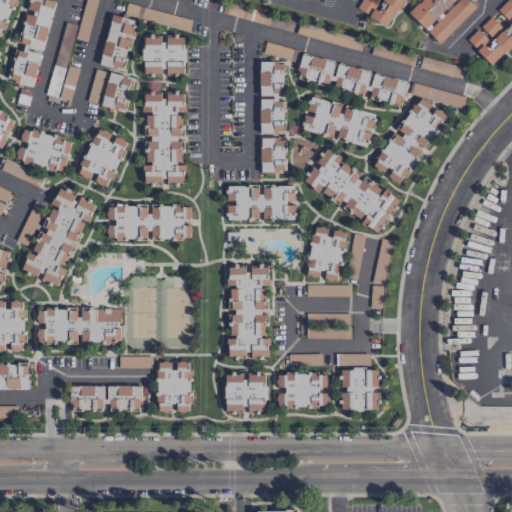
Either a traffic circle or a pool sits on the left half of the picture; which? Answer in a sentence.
Visible on the left half of the picture is a pool.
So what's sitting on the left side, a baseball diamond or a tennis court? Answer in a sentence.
There is a tennis court on the left side.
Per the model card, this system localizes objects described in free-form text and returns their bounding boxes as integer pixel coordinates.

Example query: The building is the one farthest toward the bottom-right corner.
[340,368,382,412]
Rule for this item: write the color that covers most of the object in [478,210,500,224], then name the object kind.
white vehicle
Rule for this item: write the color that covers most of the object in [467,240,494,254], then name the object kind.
white vehicle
